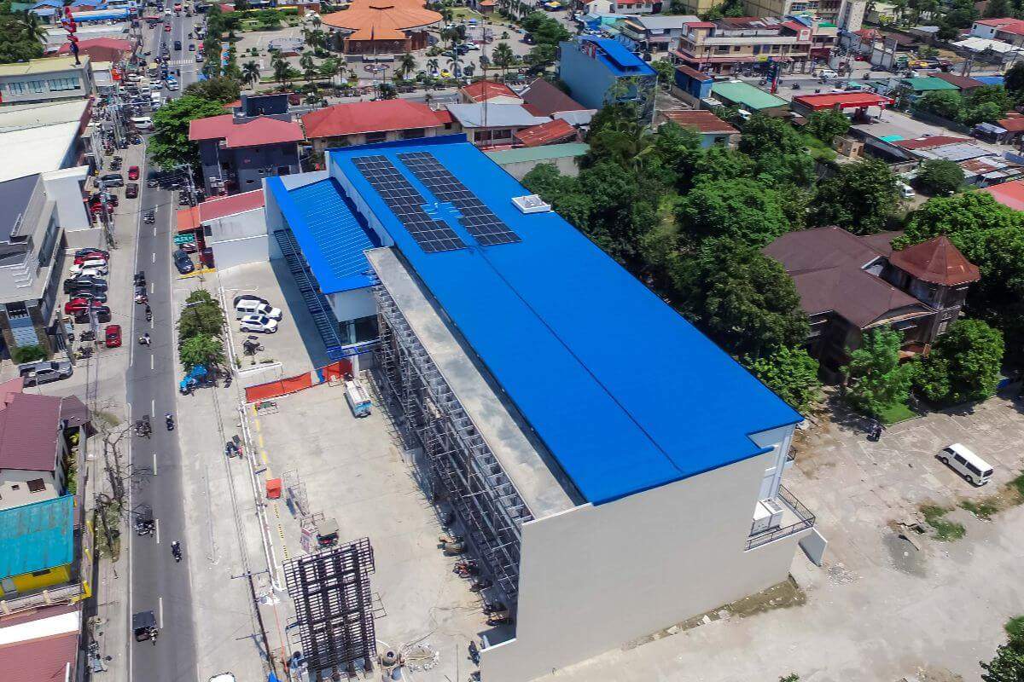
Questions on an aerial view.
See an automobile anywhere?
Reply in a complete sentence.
Yes, the photo shows an automobile.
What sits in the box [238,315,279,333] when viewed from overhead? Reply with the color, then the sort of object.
white car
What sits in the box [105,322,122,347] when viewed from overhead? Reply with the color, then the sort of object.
red car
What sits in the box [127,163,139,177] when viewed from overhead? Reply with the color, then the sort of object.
red vehicle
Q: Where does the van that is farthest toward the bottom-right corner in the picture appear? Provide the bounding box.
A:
[936,448,994,485]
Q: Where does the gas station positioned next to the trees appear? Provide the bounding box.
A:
[789,88,894,133]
